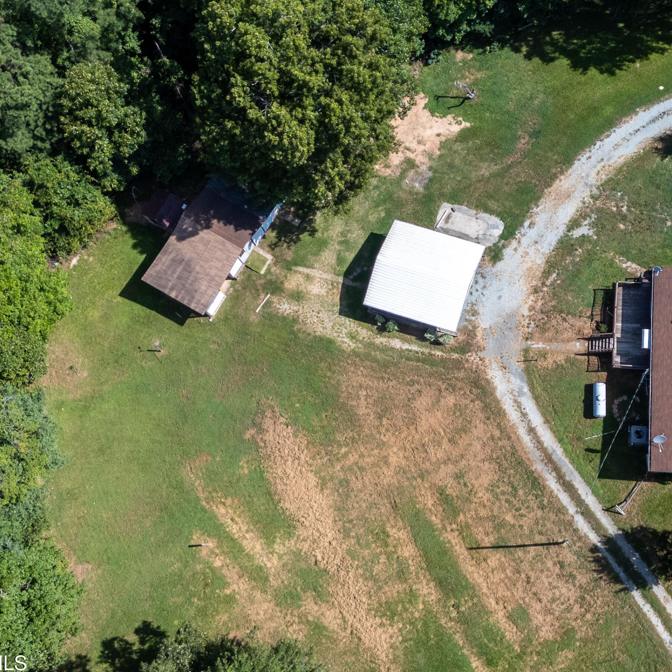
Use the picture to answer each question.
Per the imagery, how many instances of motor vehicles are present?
0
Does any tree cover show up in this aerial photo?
Yes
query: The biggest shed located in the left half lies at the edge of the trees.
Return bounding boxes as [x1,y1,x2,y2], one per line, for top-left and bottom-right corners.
[141,162,295,321]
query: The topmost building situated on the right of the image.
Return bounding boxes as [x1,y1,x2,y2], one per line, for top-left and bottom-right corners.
[362,219,487,337]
